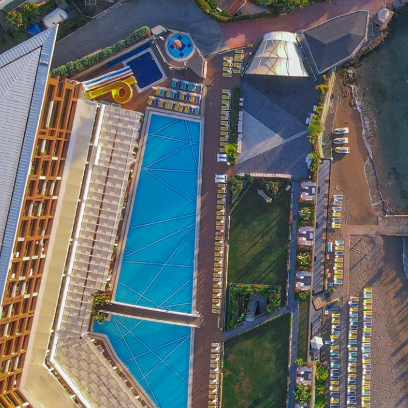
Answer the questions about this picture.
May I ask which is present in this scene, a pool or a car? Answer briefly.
pool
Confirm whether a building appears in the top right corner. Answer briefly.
Yes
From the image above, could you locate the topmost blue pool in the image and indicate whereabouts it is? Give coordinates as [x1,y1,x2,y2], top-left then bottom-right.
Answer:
[163,30,197,64]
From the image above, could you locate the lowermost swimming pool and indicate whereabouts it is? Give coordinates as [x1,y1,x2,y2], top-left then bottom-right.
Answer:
[89,109,205,408]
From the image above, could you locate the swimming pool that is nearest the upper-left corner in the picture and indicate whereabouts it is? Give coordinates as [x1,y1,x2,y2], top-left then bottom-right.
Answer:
[122,47,169,94]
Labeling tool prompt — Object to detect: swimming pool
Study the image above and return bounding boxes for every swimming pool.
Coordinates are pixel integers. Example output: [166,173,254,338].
[163,30,197,64]
[122,47,169,94]
[89,109,205,408]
